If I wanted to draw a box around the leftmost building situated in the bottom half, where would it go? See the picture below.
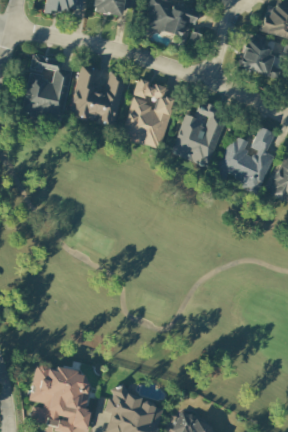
[27,366,92,432]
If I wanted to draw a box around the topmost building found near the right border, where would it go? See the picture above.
[260,4,288,40]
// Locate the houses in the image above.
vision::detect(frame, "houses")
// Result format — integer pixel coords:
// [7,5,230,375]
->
[42,0,78,12]
[170,411,219,432]
[126,79,176,148]
[72,66,128,124]
[260,4,288,40]
[94,0,126,17]
[226,128,275,190]
[102,385,161,432]
[150,0,203,36]
[27,366,92,432]
[273,151,288,197]
[175,104,224,164]
[29,54,66,110]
